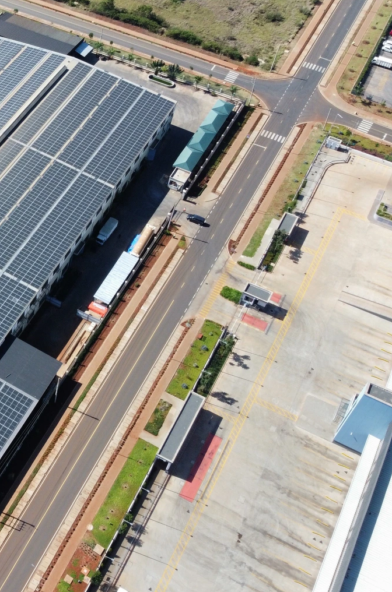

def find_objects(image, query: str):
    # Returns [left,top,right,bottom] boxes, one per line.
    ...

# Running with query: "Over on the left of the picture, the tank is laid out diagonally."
[129,224,157,263]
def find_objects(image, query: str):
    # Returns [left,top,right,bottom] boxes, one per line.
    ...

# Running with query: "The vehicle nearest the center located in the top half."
[183,211,210,227]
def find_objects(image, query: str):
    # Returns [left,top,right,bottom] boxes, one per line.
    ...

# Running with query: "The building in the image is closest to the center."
[240,283,273,312]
